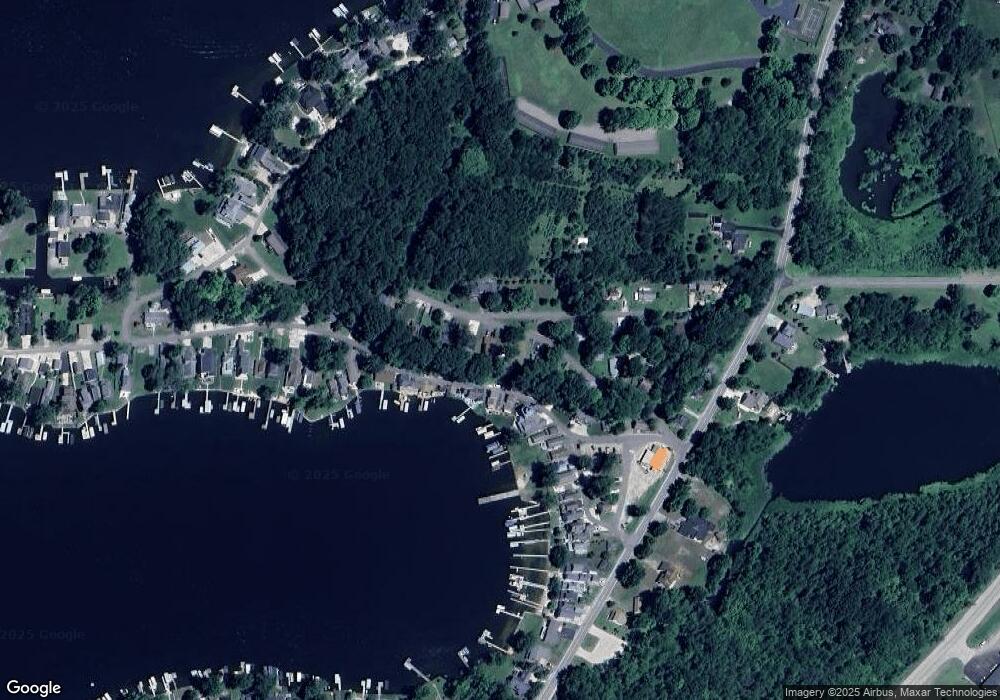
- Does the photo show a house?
Yes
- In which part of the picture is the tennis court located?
top right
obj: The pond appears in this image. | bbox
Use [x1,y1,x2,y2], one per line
[839,72,966,220]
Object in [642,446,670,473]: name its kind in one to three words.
building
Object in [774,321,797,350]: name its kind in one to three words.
house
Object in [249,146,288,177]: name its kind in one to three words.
house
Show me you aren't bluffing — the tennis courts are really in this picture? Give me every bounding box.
[789,0,829,44]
